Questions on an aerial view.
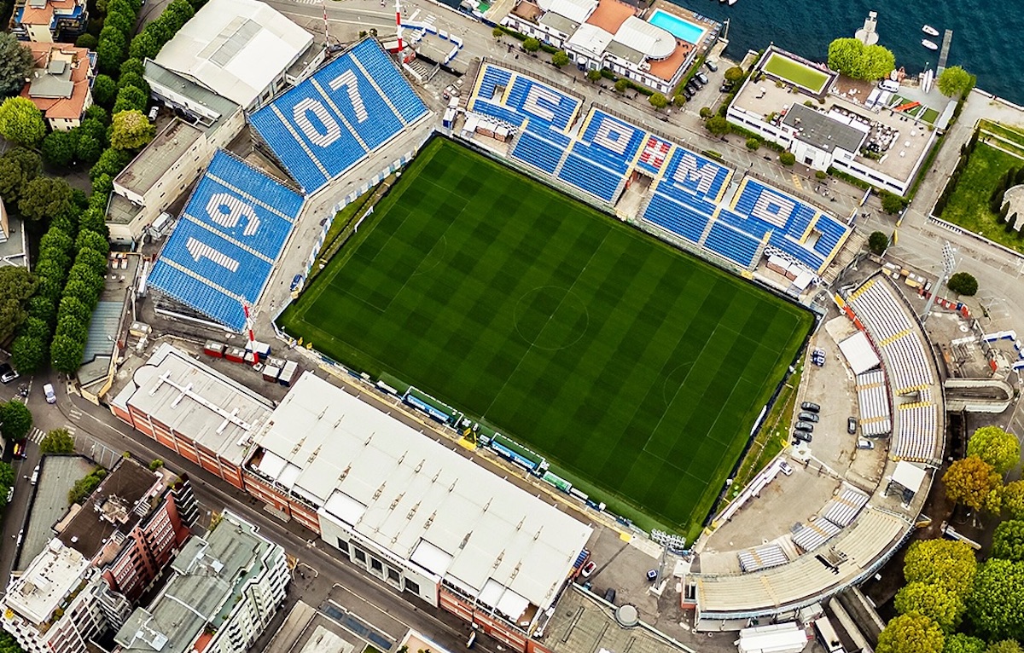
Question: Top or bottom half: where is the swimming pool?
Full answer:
The top half of the photo is where the swimming pool is.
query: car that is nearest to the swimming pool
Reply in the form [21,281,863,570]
[704,57,720,71]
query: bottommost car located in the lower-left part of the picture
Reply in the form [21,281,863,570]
[13,526,26,546]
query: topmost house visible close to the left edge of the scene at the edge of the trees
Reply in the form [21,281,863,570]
[15,0,91,46]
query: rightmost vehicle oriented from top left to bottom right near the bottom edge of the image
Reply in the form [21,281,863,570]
[812,611,849,653]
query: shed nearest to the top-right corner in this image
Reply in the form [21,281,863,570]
[936,100,958,134]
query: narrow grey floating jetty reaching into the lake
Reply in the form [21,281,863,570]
[937,27,953,77]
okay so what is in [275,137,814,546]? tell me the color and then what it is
green soccer field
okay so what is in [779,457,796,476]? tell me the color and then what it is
white car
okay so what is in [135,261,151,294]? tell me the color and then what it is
white vehicle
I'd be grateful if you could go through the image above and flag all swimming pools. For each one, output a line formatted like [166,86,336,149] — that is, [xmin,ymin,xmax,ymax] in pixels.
[648,0,721,54]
